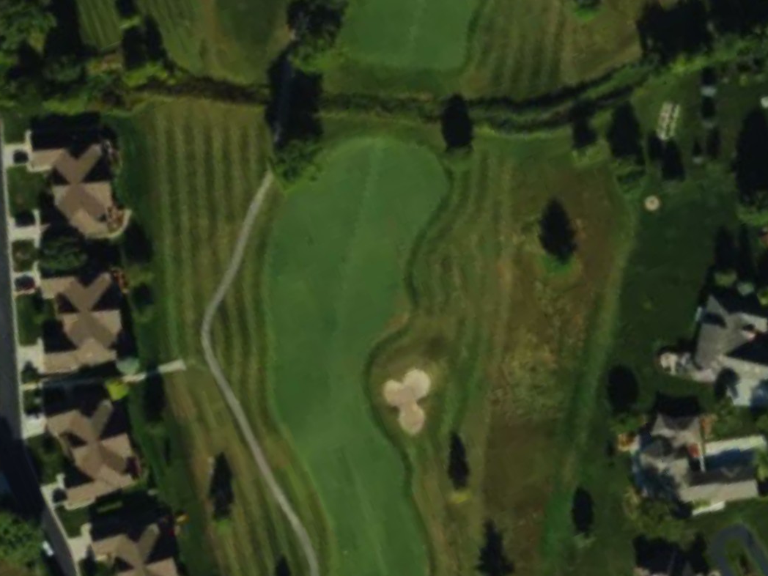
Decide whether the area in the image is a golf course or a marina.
golf course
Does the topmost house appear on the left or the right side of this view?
left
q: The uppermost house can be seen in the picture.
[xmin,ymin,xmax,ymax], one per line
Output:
[29,128,111,243]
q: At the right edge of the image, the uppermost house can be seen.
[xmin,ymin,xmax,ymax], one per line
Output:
[694,287,768,382]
